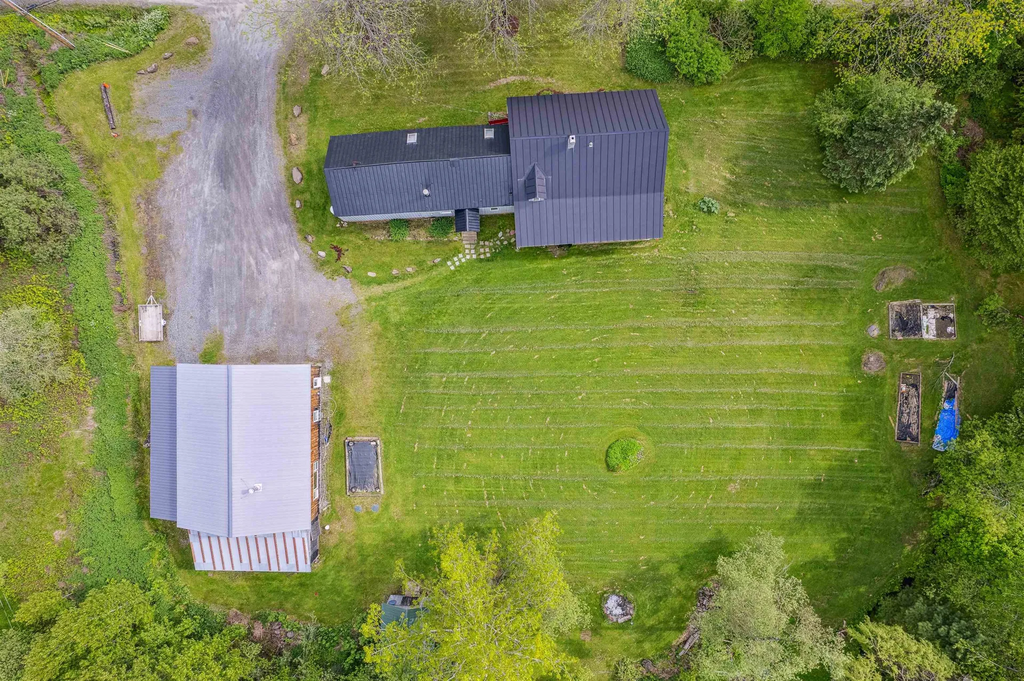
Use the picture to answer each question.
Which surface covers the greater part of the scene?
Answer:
grass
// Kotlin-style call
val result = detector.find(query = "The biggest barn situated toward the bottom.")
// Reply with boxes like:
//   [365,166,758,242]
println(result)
[177,364,327,539]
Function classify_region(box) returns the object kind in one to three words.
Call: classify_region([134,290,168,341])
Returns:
trailer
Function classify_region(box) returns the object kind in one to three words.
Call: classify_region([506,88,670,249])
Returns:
house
